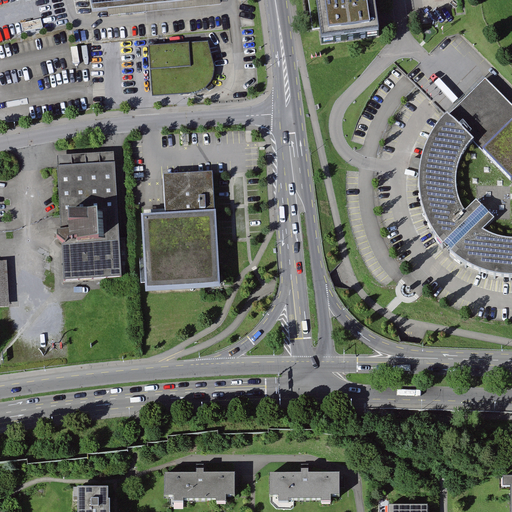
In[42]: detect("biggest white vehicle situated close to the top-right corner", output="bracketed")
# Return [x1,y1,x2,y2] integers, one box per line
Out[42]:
[430,74,459,105]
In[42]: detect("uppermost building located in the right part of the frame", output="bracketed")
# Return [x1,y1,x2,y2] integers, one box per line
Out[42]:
[317,0,378,44]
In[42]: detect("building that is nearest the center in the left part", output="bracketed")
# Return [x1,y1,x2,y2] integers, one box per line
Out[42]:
[140,208,220,294]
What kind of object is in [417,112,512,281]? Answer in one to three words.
building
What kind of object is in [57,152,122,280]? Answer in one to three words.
building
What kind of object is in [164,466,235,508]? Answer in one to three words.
house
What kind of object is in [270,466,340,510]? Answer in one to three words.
house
